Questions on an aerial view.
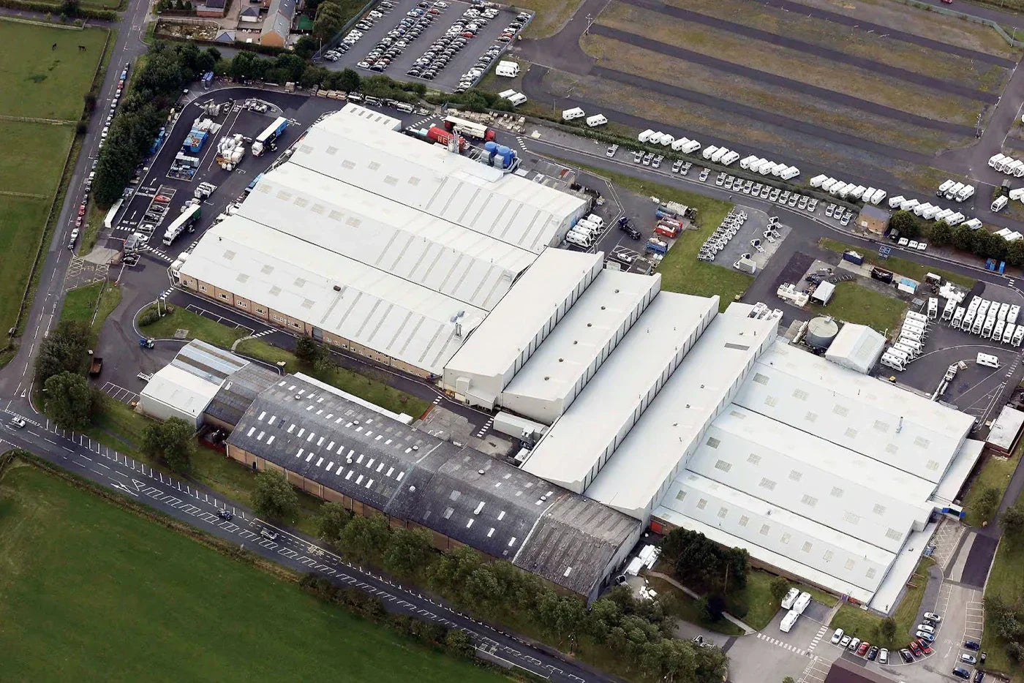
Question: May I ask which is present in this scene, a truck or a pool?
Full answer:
The one in the frame is a truck.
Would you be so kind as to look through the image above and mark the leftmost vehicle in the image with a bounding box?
[10,415,27,428]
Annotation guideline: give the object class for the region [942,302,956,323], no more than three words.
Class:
camper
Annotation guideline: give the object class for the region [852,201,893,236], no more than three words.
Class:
building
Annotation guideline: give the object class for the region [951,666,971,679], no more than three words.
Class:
vehicle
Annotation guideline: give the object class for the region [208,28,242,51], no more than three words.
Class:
house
